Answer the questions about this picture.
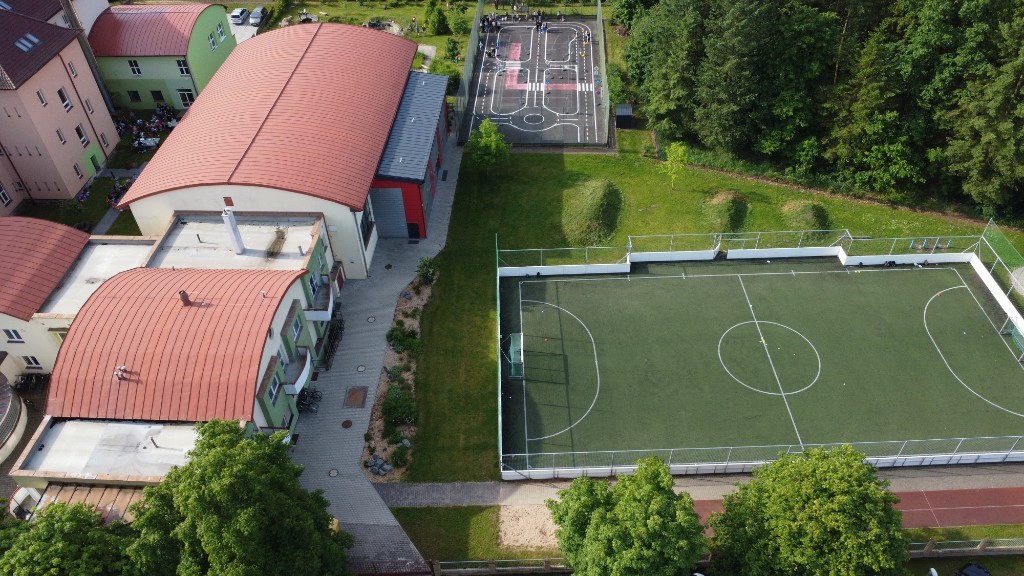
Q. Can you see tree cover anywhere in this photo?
Yes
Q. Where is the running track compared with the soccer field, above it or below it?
below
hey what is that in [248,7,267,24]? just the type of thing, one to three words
car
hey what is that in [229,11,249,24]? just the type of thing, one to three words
vehicle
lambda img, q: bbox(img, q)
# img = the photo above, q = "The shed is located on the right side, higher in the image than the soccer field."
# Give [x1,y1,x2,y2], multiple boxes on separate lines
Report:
[621,95,640,128]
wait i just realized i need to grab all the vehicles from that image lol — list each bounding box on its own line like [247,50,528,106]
[248,7,267,24]
[229,11,249,24]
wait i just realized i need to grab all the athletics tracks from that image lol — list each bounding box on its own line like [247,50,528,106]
[881,487,1024,532]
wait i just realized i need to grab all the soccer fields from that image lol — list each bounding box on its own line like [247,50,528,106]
[499,255,1024,470]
